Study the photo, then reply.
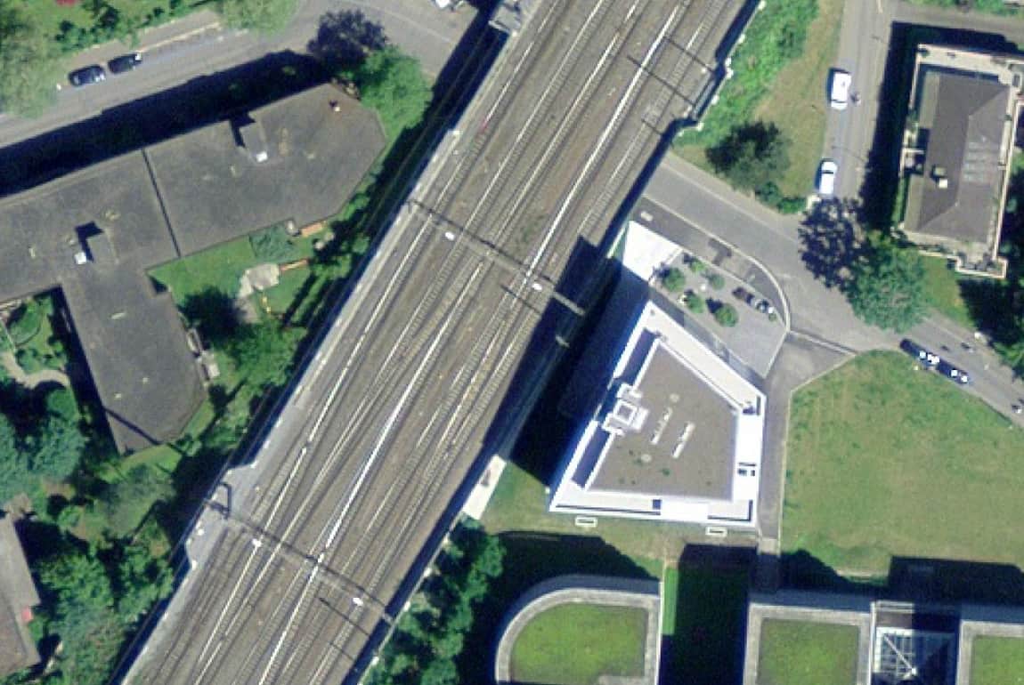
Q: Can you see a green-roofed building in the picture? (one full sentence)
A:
Yes, there's a green-roofed building down there.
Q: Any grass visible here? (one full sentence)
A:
Yes, the picture does contain grass.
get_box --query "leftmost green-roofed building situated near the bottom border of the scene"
[488,565,661,685]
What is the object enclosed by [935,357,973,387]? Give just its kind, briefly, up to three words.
car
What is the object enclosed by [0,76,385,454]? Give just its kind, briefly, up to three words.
building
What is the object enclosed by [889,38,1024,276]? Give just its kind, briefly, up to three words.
house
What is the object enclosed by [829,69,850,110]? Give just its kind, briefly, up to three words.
vehicle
